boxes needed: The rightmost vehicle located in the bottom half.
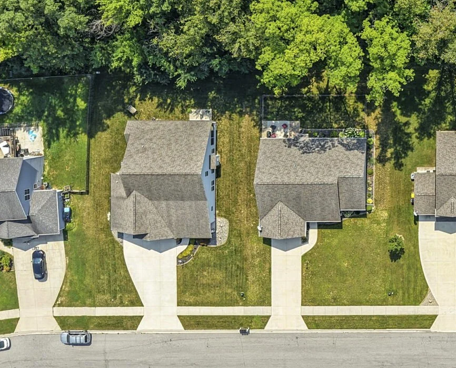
[62,331,93,347]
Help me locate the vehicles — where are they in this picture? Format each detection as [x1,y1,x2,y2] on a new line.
[31,251,48,280]
[62,331,93,347]
[0,336,14,350]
